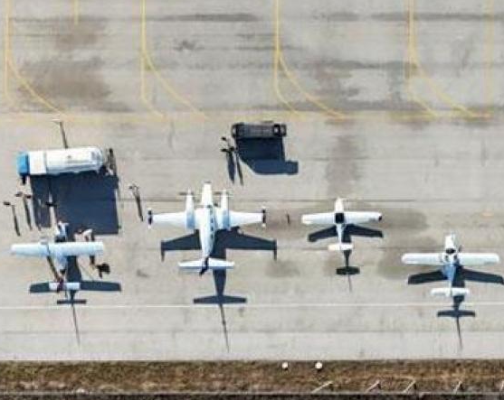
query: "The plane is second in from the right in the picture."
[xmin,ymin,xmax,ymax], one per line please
[301,195,381,254]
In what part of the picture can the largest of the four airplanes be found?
center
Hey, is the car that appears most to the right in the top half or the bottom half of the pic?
top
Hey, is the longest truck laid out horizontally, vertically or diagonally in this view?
horizontally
